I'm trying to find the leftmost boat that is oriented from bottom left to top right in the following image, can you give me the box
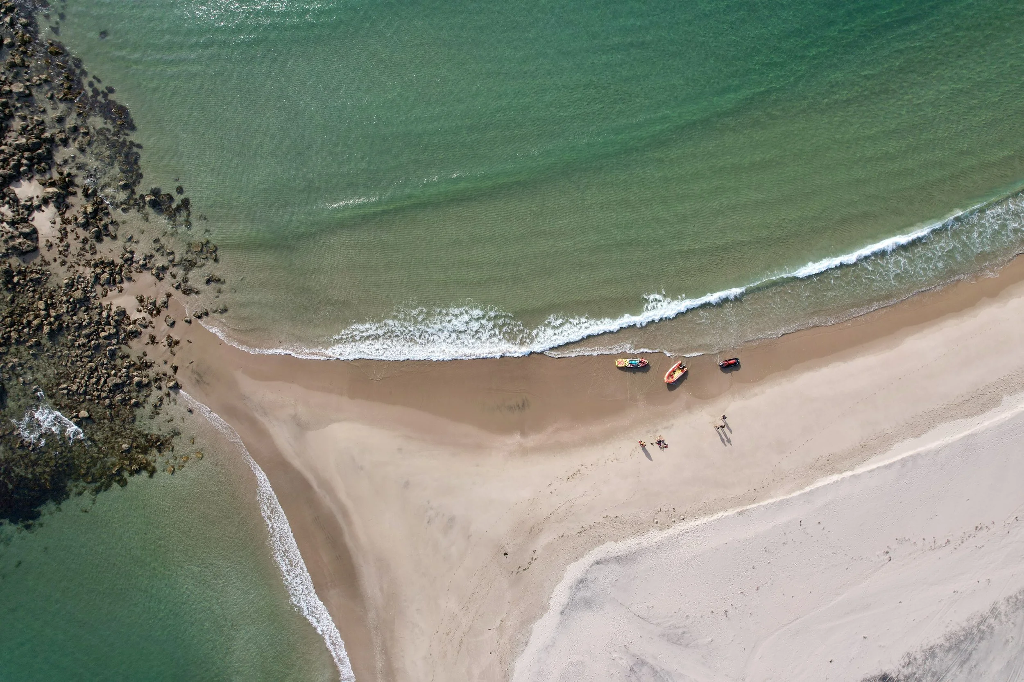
[666,359,690,381]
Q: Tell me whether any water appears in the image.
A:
Yes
